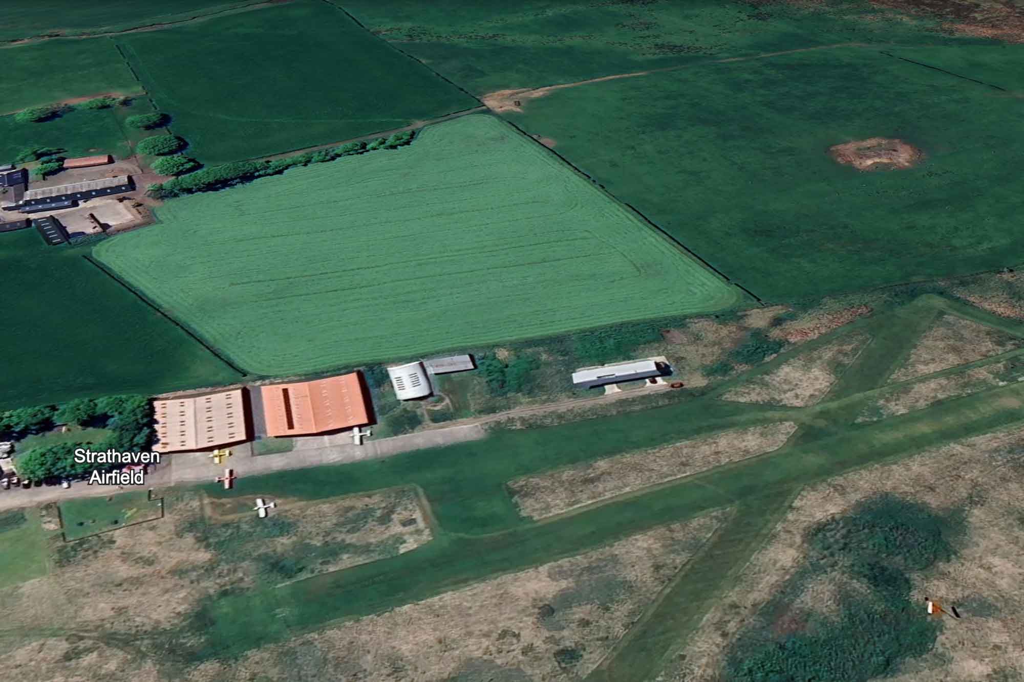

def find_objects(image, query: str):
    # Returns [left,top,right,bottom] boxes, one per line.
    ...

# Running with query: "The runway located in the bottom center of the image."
[180,379,1024,659]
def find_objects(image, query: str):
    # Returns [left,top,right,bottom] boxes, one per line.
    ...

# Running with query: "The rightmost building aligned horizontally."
[569,361,664,388]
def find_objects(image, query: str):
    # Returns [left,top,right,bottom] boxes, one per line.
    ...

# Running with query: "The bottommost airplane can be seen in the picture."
[255,497,275,516]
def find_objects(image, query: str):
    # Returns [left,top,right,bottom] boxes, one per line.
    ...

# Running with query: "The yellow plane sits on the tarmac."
[210,446,230,462]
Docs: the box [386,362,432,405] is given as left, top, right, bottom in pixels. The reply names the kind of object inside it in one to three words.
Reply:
hangar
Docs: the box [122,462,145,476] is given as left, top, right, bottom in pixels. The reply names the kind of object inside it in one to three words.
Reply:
vehicle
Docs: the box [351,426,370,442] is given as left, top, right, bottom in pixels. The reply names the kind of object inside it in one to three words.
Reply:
airplane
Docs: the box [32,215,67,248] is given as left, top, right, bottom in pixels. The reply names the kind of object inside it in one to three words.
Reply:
barn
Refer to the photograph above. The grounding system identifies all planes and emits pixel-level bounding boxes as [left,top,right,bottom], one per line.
[255,497,275,516]
[351,426,370,442]
[216,467,237,489]
[210,446,230,462]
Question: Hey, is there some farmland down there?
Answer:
Yes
